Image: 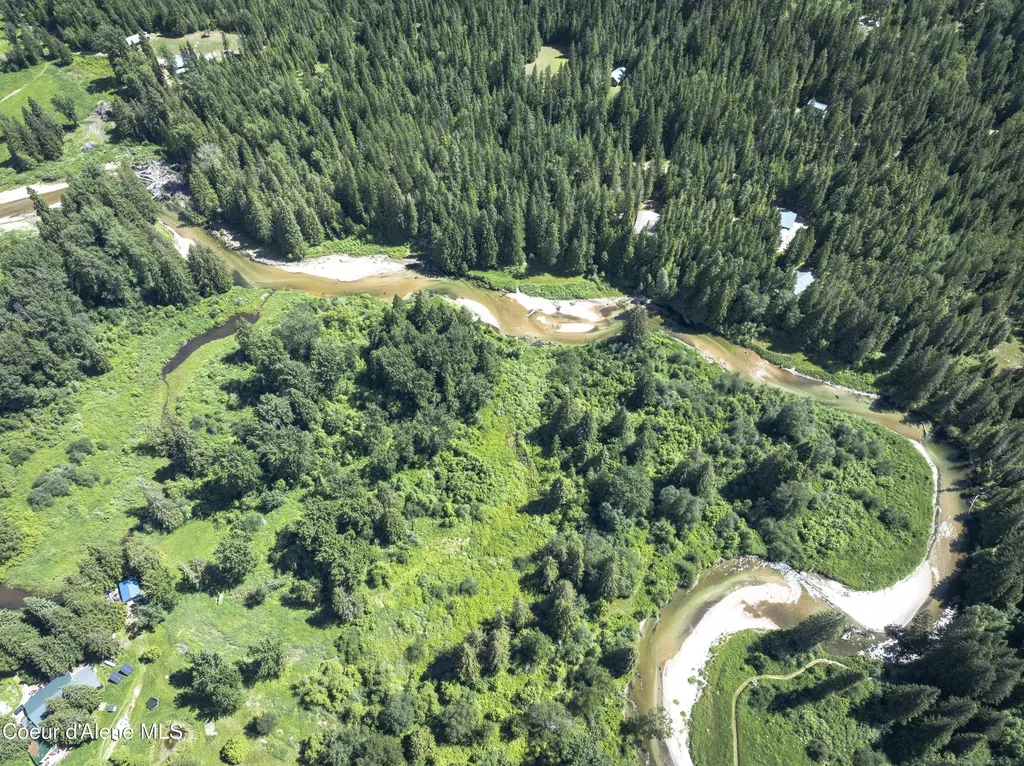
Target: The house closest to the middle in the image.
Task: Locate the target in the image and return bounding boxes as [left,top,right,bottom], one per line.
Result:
[634,212,659,240]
